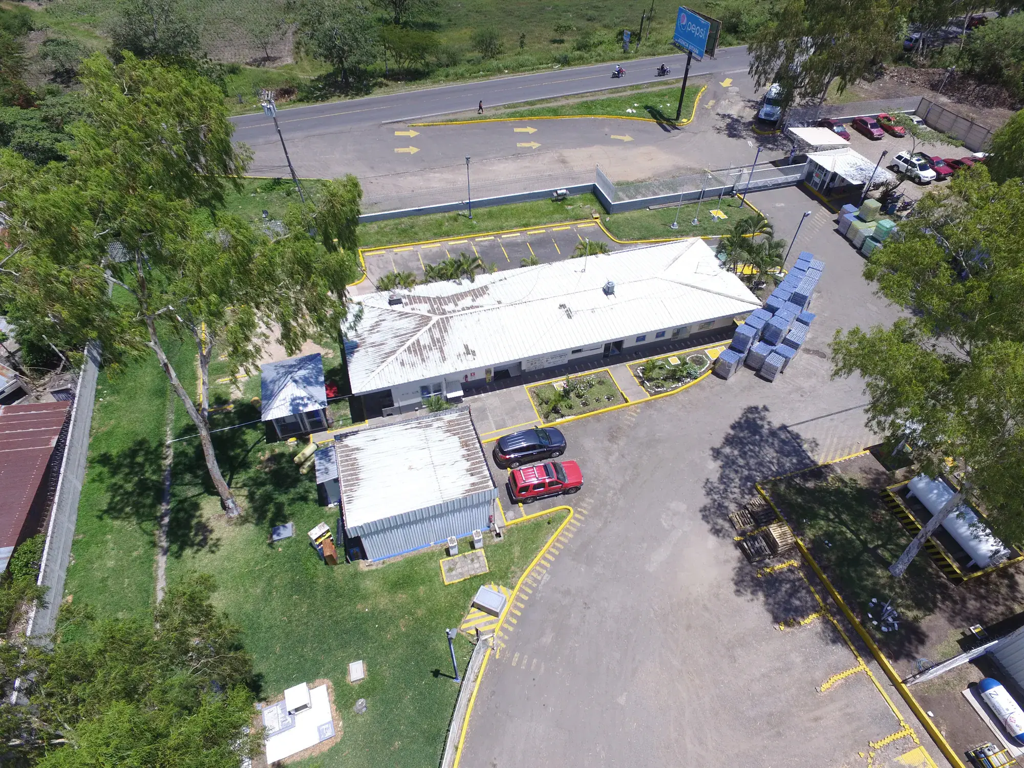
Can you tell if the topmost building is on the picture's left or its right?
right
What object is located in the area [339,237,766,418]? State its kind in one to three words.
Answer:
building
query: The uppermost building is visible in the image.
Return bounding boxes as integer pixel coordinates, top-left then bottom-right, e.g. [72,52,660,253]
[798,147,895,215]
